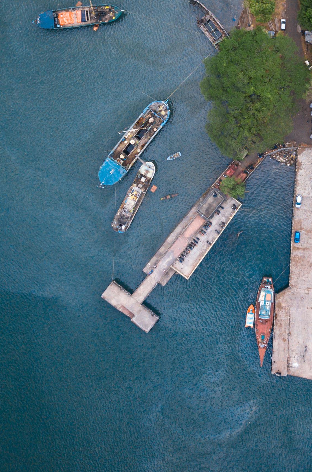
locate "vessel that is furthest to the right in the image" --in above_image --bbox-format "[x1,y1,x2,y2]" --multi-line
[254,276,276,366]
